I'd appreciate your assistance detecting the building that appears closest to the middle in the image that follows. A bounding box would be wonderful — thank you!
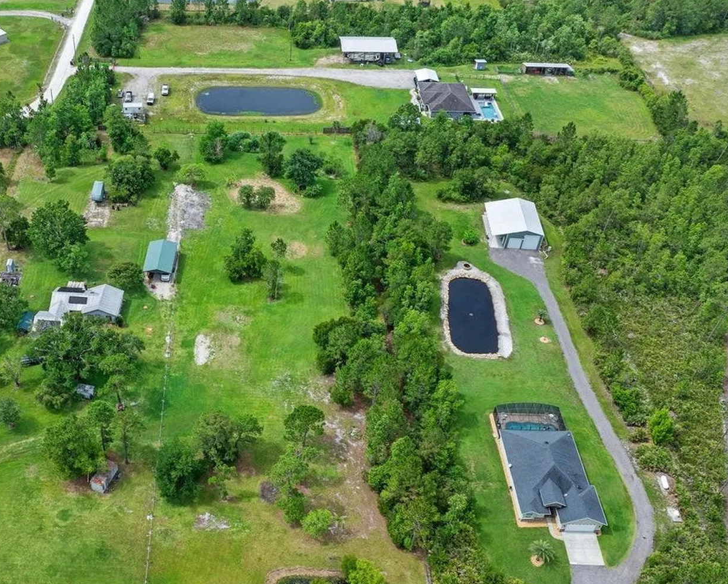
[474,193,546,254]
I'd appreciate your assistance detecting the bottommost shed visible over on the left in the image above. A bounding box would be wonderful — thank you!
[90,461,120,493]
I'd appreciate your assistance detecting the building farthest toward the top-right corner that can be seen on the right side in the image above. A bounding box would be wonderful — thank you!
[519,63,573,79]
